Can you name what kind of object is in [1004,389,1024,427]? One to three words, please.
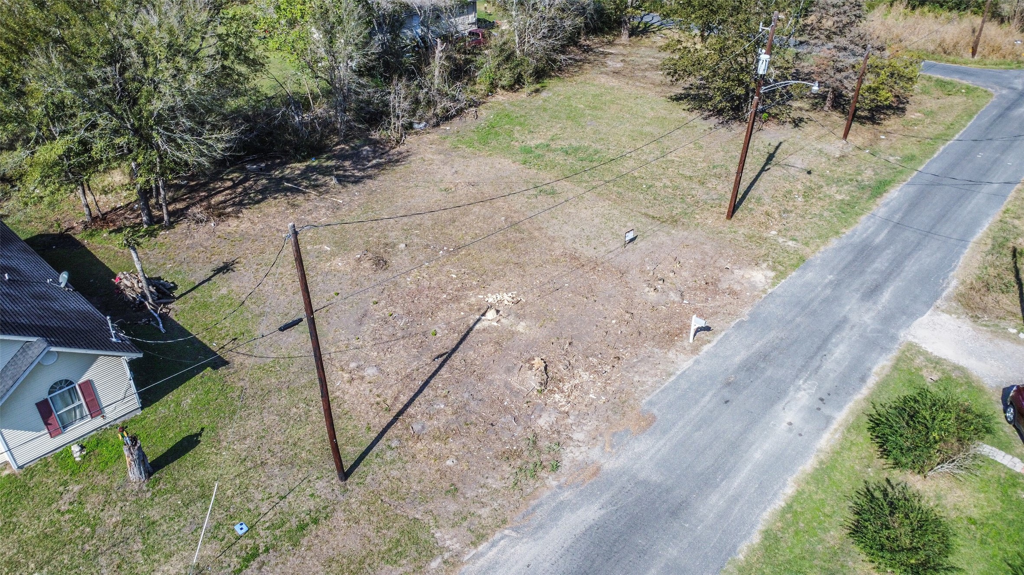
car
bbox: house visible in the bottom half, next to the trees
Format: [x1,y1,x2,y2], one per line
[0,223,144,470]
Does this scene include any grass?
Yes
